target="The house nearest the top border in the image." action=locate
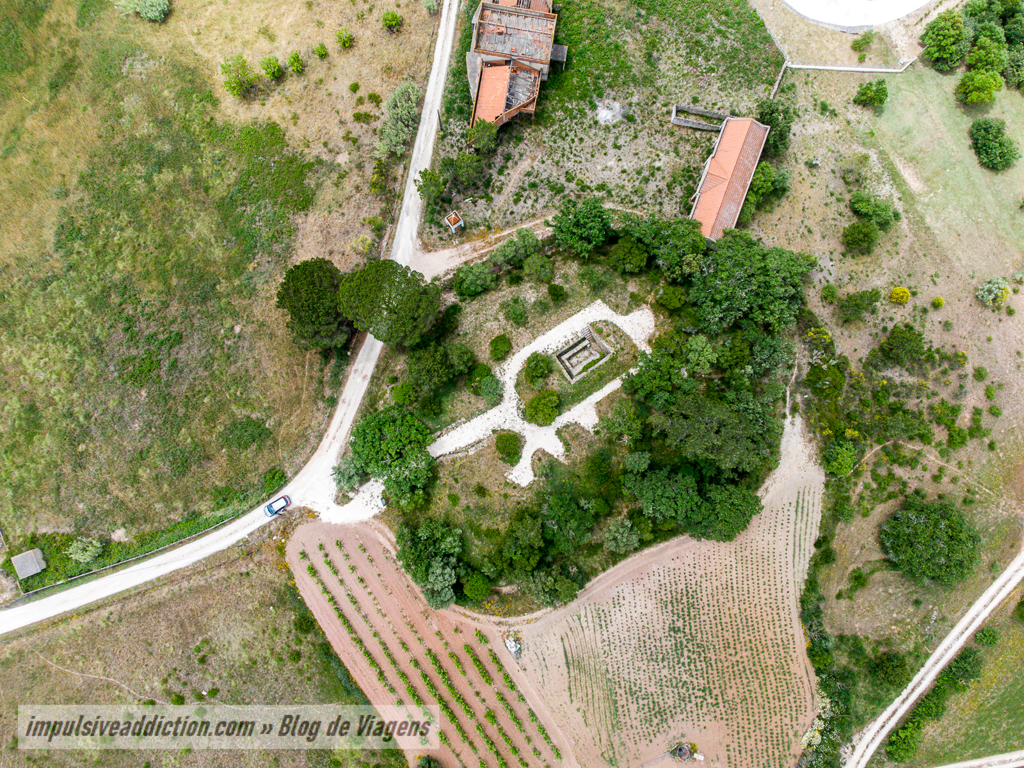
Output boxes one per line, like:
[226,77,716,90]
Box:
[467,0,568,136]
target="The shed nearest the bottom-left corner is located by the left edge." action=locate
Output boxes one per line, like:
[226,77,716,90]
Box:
[10,550,49,580]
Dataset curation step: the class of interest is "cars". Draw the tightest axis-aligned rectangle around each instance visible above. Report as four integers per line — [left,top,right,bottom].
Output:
[262,493,292,518]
